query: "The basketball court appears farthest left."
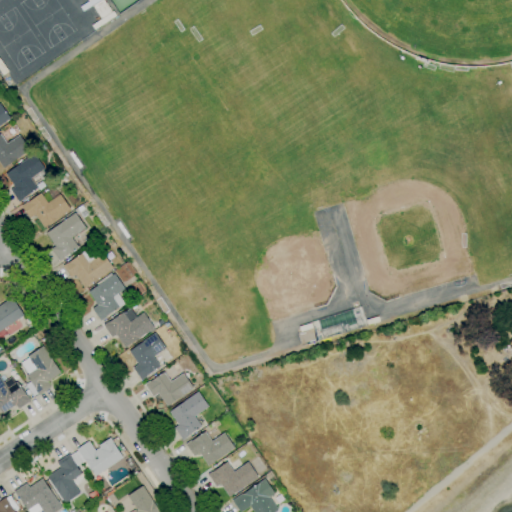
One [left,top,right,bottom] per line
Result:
[0,7,46,70]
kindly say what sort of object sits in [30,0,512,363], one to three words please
sports field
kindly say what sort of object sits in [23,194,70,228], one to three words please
house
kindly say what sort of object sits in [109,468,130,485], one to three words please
swimming pool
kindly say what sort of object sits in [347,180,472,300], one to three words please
baseball field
